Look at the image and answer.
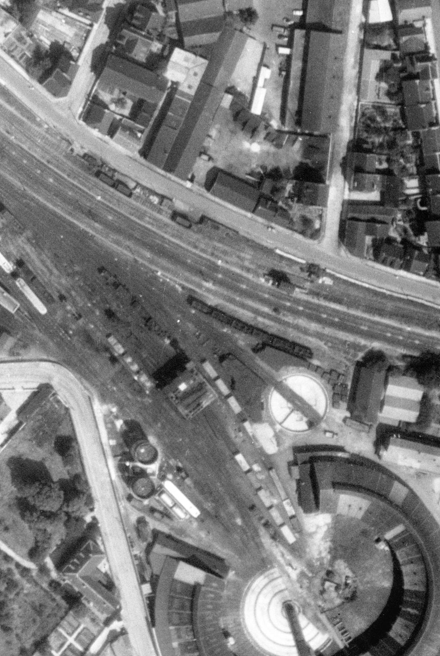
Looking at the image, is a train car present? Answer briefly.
Yes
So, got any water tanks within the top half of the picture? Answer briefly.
No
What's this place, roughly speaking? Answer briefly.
residential area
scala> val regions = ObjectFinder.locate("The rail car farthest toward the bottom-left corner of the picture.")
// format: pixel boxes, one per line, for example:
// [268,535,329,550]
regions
[164,480,199,518]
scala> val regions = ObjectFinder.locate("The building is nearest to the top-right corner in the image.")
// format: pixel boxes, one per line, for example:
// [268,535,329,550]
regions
[393,0,434,24]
